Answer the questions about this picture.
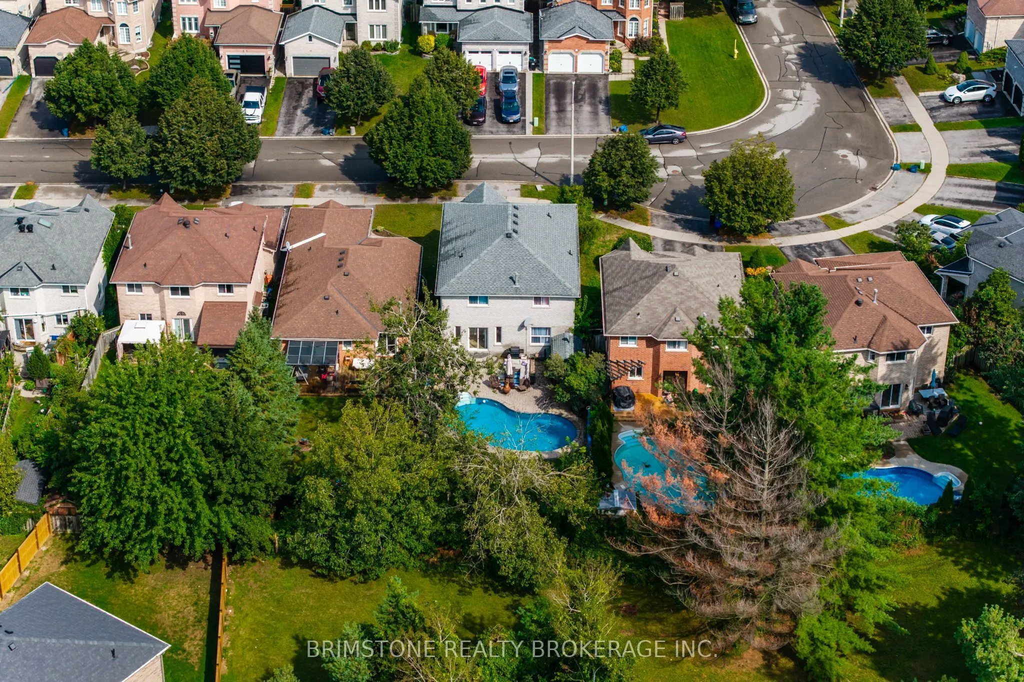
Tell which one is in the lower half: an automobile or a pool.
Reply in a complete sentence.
What appears in the lower half is a pool.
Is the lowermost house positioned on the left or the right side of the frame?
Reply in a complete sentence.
You can find the lowermost house on the left side of the picture.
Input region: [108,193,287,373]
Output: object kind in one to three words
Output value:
house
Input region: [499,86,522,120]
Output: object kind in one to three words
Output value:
car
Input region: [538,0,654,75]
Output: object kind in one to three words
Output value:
house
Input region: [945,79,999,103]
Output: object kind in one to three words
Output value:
car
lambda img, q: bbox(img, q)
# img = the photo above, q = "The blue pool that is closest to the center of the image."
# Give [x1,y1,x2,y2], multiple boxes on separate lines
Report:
[451,396,580,453]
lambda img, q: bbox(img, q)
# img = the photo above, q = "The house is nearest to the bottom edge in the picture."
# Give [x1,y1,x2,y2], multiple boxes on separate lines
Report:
[0,575,173,682]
